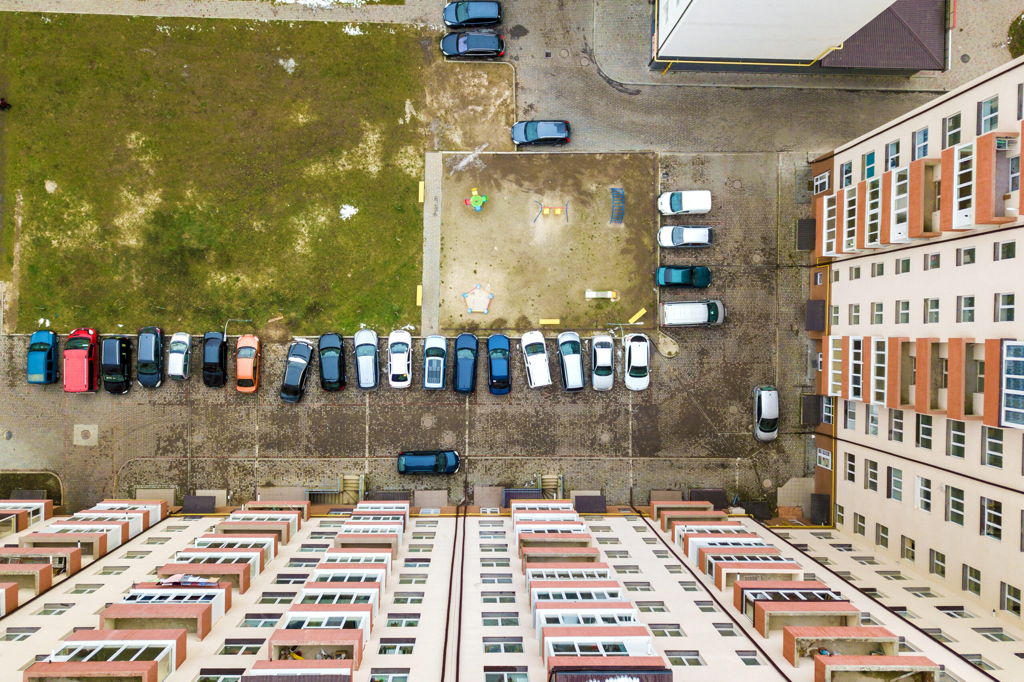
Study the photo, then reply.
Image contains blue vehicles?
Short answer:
Yes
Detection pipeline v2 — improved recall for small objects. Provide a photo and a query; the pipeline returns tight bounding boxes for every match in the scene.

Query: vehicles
[656,222,712,250]
[624,334,653,390]
[657,188,710,216]
[100,334,134,394]
[232,334,262,393]
[316,333,347,391]
[656,262,712,290]
[451,333,480,395]
[443,0,502,29]
[484,334,513,395]
[556,332,585,392]
[351,328,383,391]
[751,385,782,441]
[511,116,570,147]
[279,341,314,402]
[199,332,229,387]
[520,330,552,388]
[440,28,505,60]
[656,299,723,329]
[420,335,450,389]
[398,448,460,478]
[589,336,617,390]
[132,326,165,388]
[65,328,102,391]
[385,330,414,387]
[165,332,196,379]
[29,330,64,382]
